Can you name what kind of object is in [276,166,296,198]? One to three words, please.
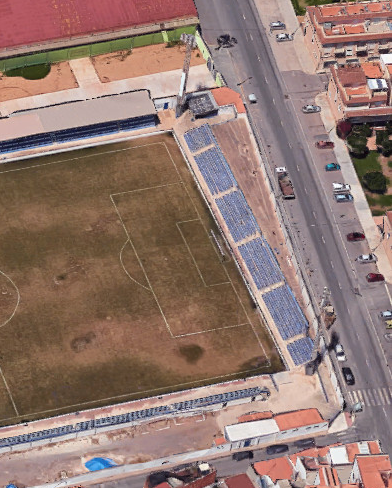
vehicle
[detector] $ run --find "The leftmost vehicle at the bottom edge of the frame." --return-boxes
[230,447,256,465]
